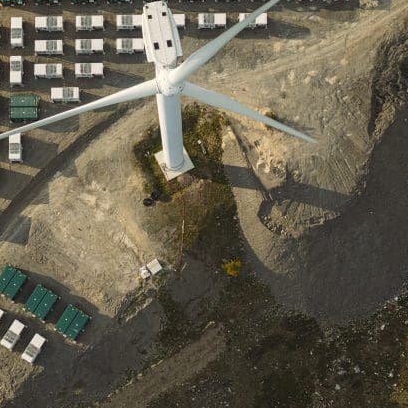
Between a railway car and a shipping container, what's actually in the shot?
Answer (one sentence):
Looking from above, you can make out a shipping container.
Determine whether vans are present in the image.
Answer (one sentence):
No, there's no van here.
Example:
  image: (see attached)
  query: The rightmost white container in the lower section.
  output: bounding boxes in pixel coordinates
[22,329,51,363]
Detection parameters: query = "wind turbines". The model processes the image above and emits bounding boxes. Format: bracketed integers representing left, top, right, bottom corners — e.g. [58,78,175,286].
[0,0,317,184]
